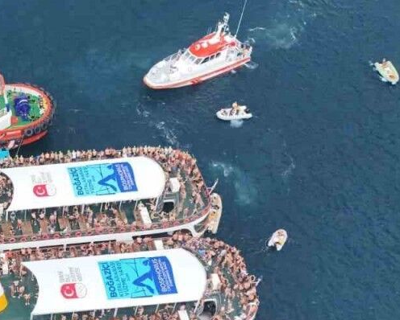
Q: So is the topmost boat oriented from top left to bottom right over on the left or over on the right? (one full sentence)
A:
You can find the topmost boat oriented from top left to bottom right on the right side of the picture.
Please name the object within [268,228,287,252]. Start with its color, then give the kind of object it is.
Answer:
white boat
